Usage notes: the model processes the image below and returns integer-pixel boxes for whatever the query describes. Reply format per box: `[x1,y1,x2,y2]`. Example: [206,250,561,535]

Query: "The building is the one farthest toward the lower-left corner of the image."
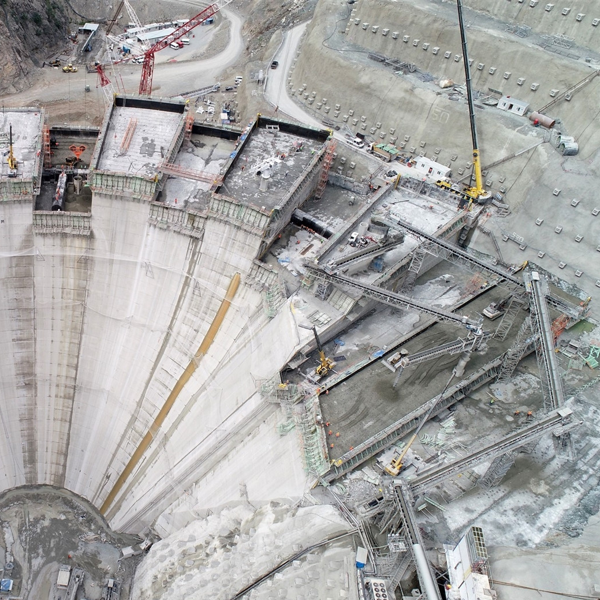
[54,563,69,591]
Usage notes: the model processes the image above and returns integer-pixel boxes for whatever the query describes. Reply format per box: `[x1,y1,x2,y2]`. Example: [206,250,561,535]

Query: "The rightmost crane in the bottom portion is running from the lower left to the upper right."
[378,374,458,475]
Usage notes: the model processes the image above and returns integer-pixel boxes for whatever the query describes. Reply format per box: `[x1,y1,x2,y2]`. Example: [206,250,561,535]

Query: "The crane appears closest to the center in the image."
[303,326,338,379]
